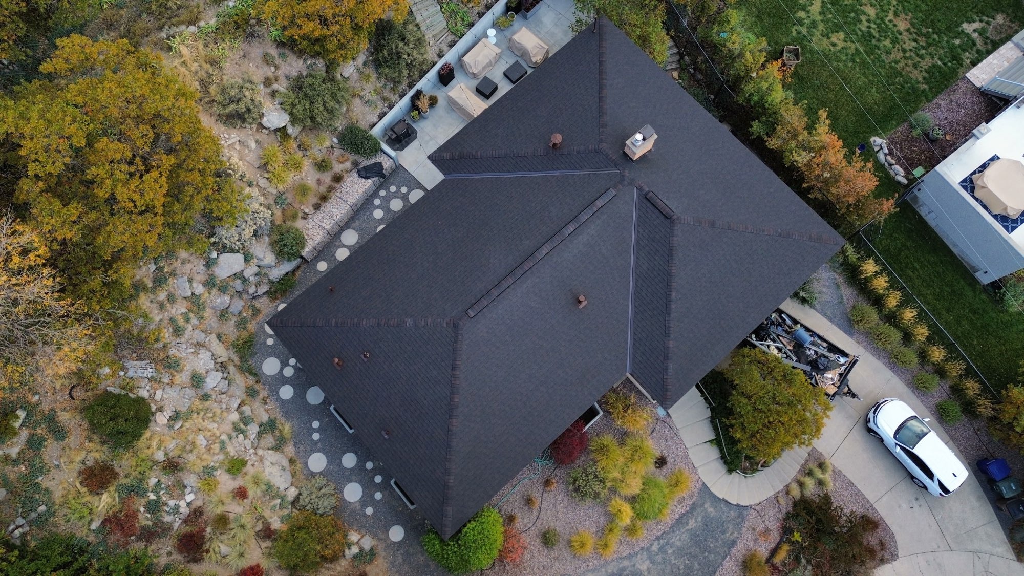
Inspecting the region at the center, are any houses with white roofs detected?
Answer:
No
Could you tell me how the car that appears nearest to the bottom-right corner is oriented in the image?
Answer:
on a diagonal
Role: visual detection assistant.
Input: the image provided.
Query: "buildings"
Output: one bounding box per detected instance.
[266,16,845,542]
[899,97,1024,282]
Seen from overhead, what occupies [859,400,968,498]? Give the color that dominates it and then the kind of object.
white car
